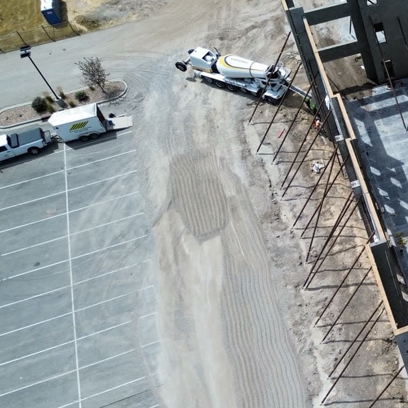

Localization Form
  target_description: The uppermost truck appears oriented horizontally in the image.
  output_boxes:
[173,43,312,103]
